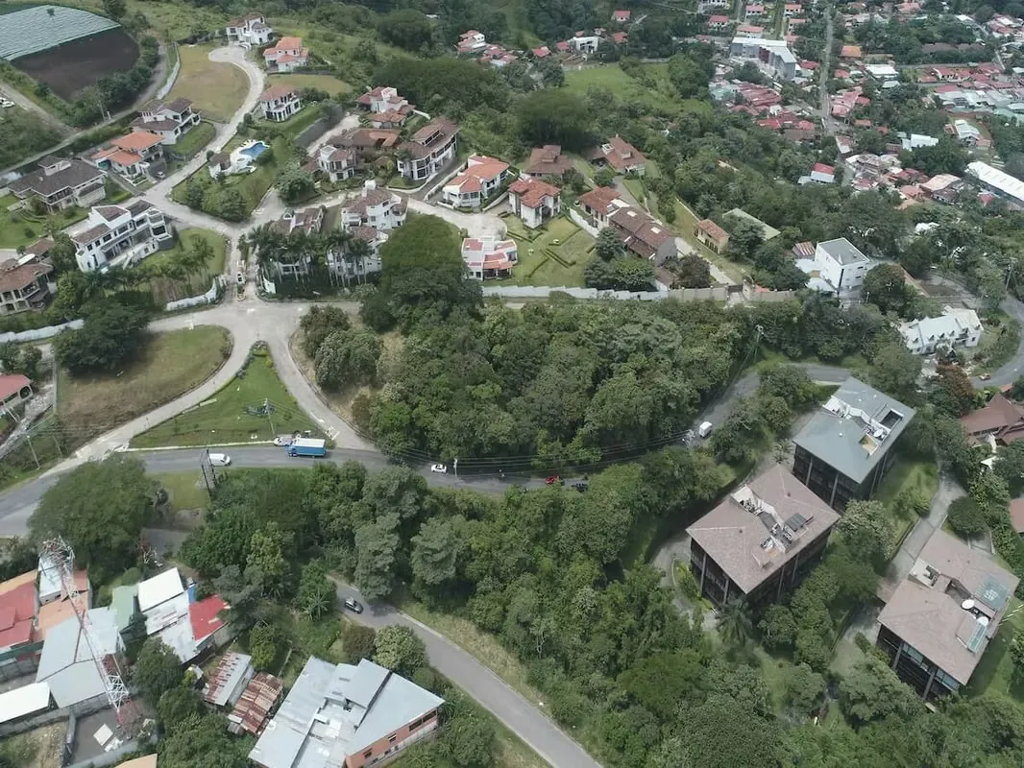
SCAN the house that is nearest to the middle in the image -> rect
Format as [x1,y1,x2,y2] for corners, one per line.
[465,236,516,279]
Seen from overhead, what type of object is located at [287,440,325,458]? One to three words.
vehicle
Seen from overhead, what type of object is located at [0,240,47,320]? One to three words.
house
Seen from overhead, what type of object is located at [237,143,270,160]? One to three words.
swimming pool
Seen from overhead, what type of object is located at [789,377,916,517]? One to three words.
building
